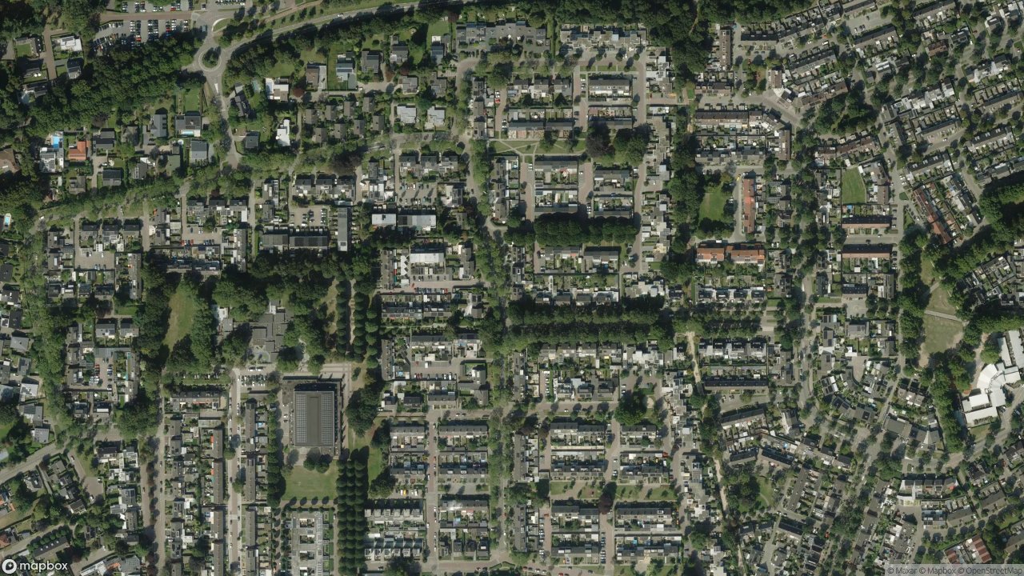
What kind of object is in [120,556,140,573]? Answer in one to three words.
building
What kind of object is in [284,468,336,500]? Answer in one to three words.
sports field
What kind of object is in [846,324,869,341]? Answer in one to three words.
house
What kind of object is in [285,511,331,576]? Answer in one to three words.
building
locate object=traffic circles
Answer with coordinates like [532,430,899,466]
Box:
[190,40,229,79]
